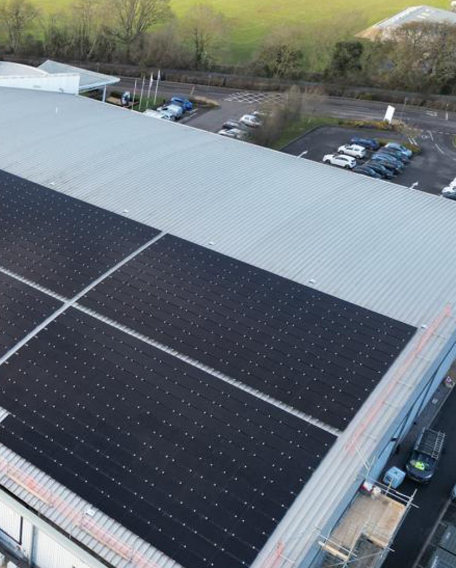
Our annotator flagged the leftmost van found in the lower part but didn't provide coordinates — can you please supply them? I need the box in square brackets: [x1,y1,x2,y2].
[398,429,448,485]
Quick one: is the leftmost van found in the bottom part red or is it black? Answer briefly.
black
